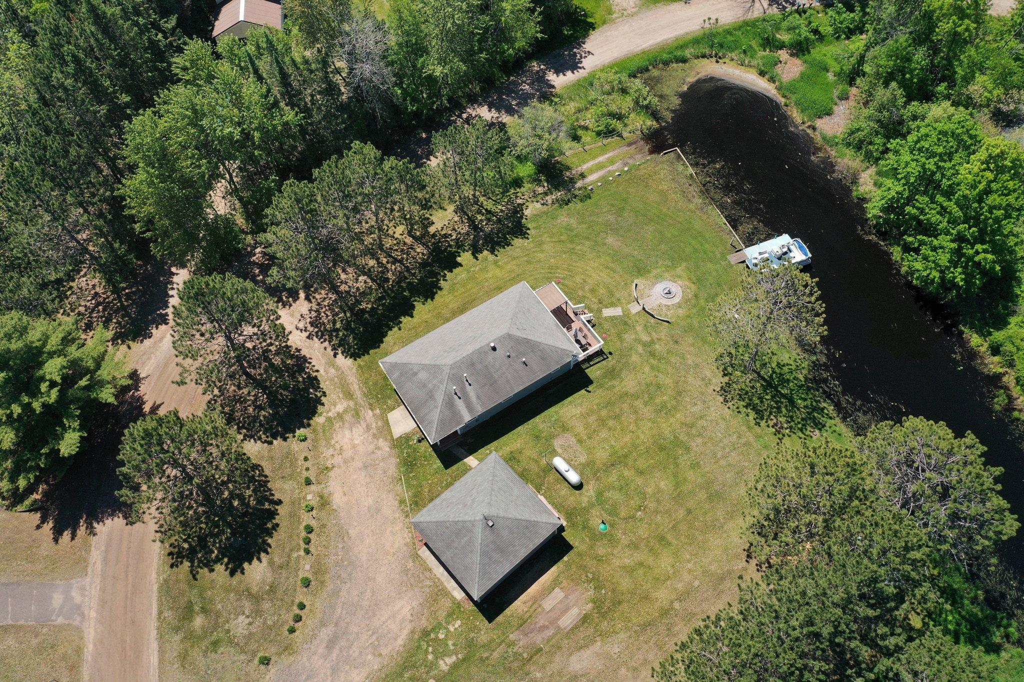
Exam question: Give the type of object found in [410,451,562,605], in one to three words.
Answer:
building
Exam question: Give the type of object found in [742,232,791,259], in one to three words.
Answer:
pier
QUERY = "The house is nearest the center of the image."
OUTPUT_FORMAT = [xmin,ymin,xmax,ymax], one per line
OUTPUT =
[377,280,583,462]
